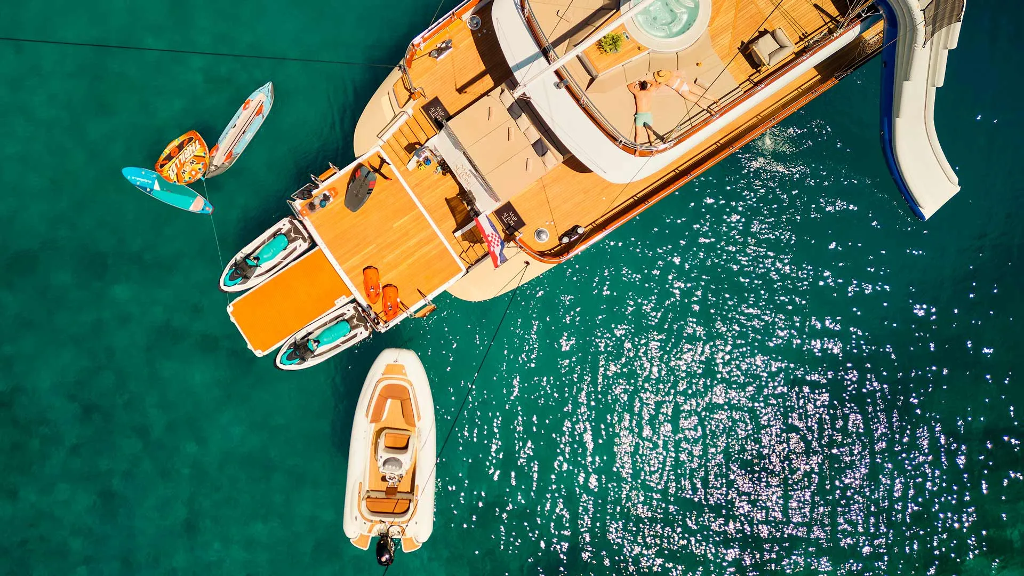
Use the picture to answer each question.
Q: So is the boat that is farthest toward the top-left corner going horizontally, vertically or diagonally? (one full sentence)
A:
In this picture, the boat that is farthest toward the top-left corner is oriented diagonally.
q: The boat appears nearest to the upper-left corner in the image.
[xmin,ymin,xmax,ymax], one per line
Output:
[204,81,278,180]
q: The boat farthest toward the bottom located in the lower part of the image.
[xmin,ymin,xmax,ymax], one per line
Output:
[346,348,437,568]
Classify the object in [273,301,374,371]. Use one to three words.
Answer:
boat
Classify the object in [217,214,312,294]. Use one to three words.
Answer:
boat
